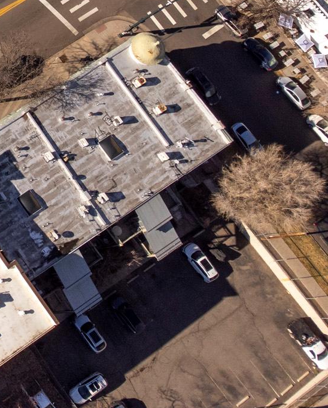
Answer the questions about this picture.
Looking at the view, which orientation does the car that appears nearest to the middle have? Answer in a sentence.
The car that appears nearest to the middle runs diagonally in the image.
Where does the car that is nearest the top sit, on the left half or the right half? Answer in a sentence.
It is on the right.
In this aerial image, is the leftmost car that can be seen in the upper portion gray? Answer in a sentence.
No, the color of the leftmost car that can be seen in the upper portion is black.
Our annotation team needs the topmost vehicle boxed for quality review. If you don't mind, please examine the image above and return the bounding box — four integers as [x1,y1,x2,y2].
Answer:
[212,5,251,42]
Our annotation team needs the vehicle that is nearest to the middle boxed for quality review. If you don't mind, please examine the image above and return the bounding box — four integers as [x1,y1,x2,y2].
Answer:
[182,242,223,286]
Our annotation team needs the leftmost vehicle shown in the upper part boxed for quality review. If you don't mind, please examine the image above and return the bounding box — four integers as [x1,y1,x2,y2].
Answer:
[182,66,225,109]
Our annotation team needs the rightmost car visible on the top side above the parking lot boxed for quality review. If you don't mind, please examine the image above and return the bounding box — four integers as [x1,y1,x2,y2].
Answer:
[303,115,328,153]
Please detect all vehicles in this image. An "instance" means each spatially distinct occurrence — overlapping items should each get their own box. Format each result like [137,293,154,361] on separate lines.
[226,118,267,157]
[303,115,328,153]
[107,291,152,341]
[241,37,281,74]
[212,5,251,42]
[182,66,225,109]
[273,75,314,112]
[67,370,111,407]
[284,315,328,367]
[182,242,223,286]
[73,312,111,358]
